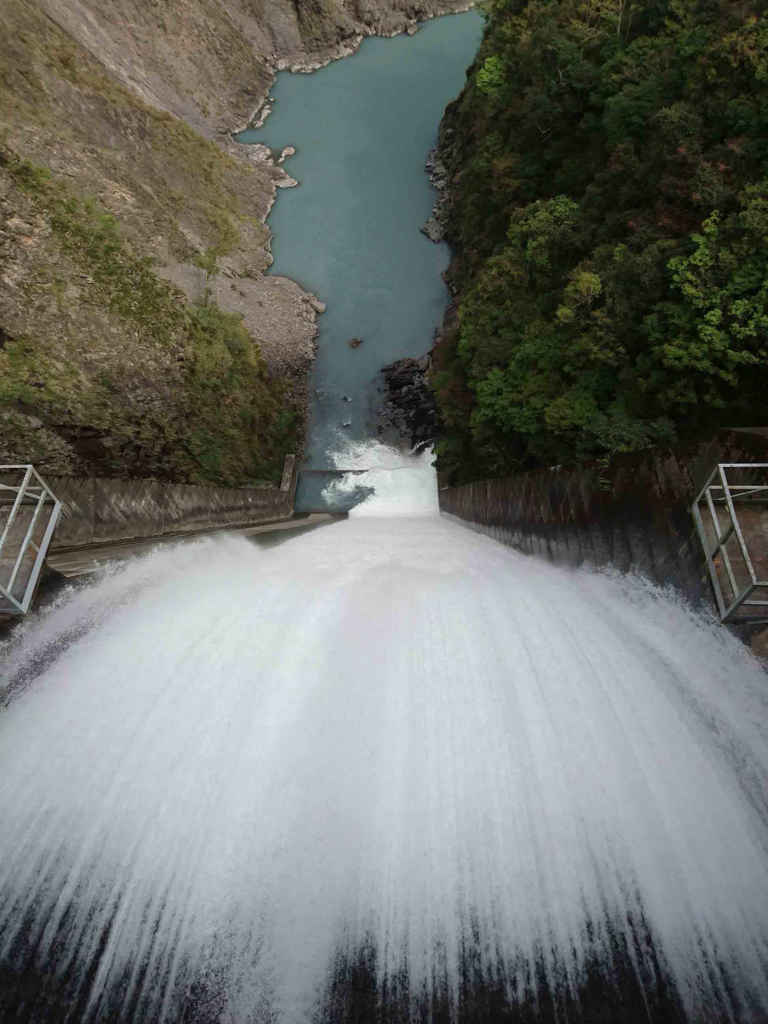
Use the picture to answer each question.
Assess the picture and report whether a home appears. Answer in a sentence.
No, this view has no home in it.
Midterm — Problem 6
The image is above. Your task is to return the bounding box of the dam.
[0,512,347,690]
